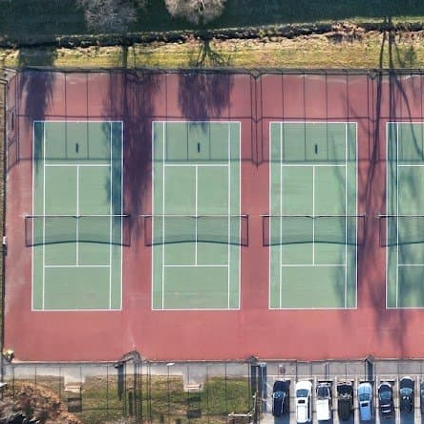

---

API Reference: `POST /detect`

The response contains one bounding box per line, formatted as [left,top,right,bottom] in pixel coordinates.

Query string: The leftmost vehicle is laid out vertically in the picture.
[272,378,291,417]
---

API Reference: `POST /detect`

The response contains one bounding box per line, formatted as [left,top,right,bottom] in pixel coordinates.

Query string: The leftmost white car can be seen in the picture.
[294,379,314,423]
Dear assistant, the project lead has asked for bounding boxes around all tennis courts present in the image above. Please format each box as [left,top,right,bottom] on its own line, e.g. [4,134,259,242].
[152,122,241,311]
[34,122,122,311]
[270,122,357,311]
[386,122,424,311]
